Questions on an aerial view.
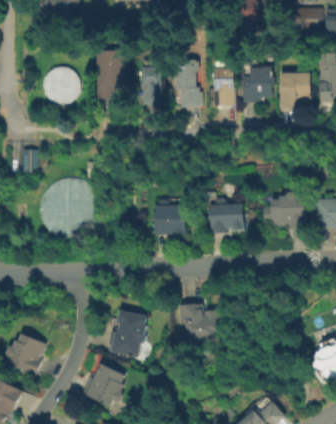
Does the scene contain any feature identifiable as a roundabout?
No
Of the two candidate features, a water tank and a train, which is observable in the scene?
water tank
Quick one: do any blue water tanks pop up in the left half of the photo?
No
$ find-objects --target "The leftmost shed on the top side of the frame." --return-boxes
[23,147,39,174]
